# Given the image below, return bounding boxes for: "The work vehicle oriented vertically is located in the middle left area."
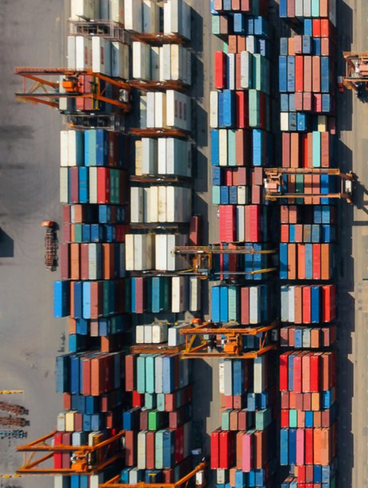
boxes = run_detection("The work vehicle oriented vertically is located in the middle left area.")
[38,219,54,270]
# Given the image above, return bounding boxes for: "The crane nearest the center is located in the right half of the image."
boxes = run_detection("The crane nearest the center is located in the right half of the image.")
[170,243,278,281]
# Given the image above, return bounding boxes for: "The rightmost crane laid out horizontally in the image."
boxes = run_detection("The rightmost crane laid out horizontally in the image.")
[256,165,360,207]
